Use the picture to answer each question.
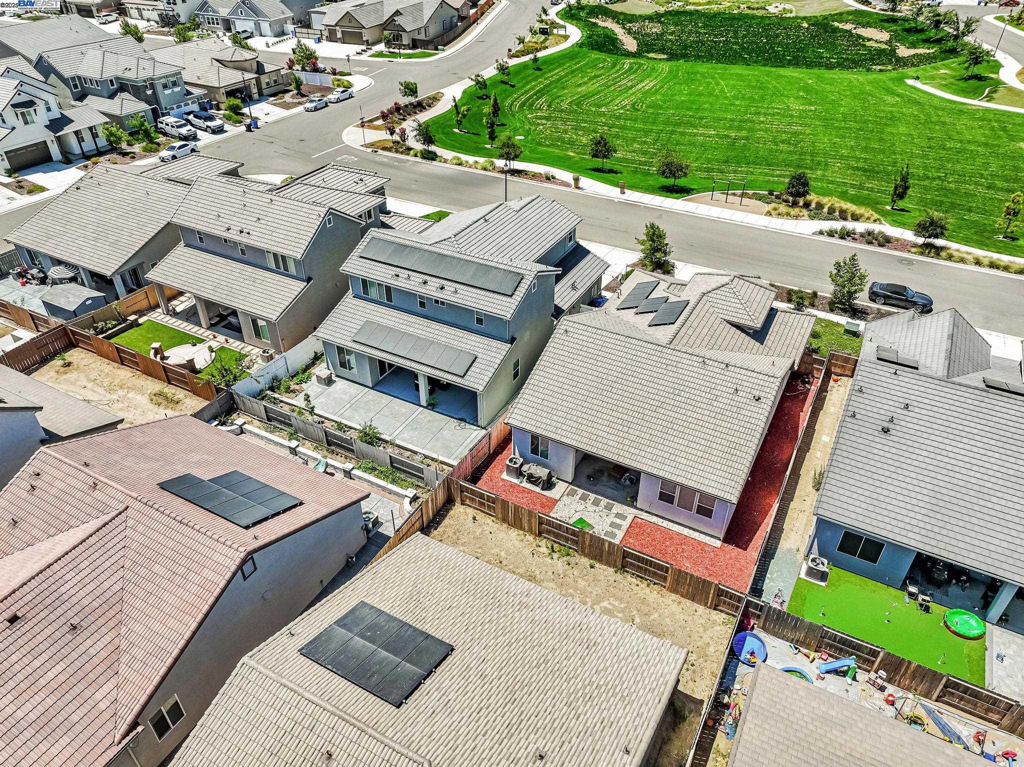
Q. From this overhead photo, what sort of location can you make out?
residential area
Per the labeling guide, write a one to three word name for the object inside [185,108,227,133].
vehicle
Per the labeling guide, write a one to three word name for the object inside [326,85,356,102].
car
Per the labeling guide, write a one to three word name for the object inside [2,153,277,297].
house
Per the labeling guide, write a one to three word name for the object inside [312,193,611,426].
house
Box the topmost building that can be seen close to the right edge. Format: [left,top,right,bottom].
[806,302,1024,624]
